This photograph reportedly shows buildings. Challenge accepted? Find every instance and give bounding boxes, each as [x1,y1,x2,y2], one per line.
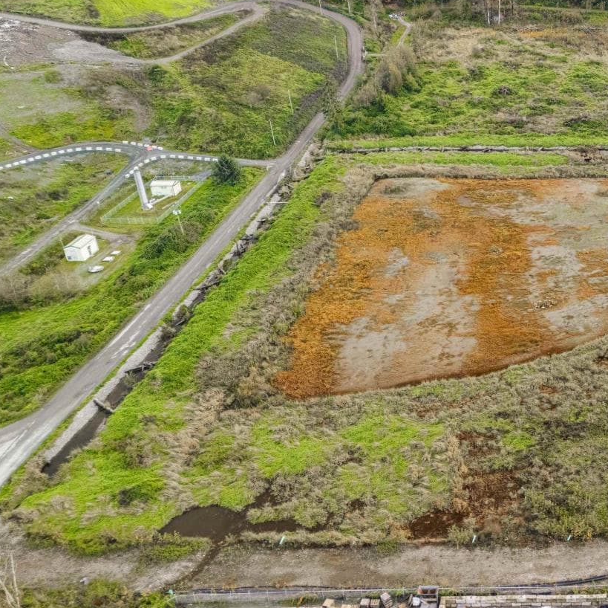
[61,236,93,261]
[149,181,179,197]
